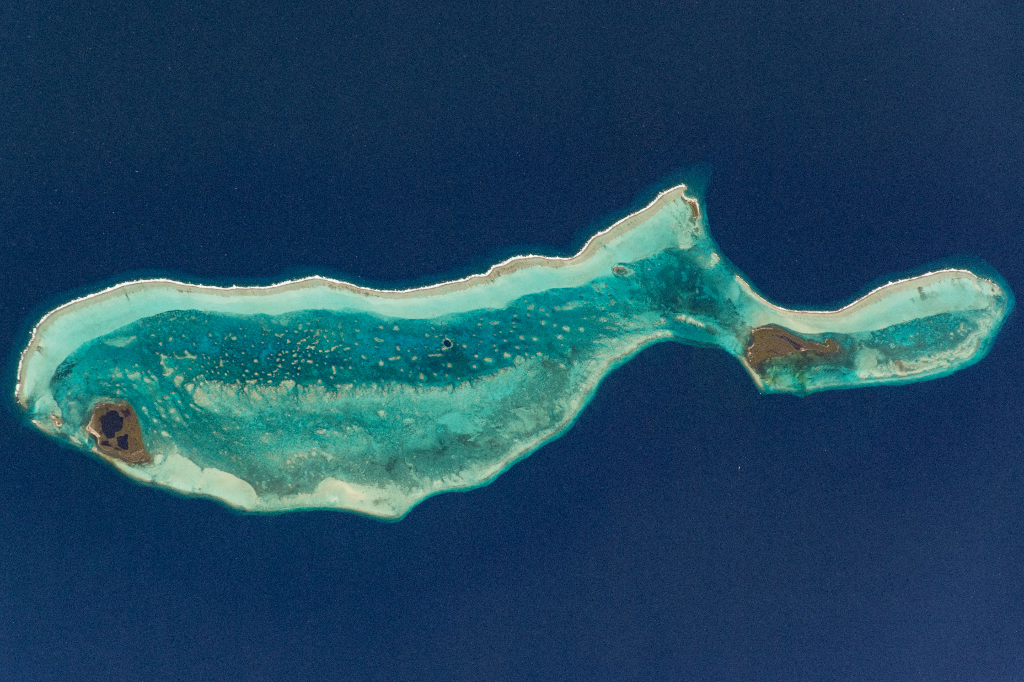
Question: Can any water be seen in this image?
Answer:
Yes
